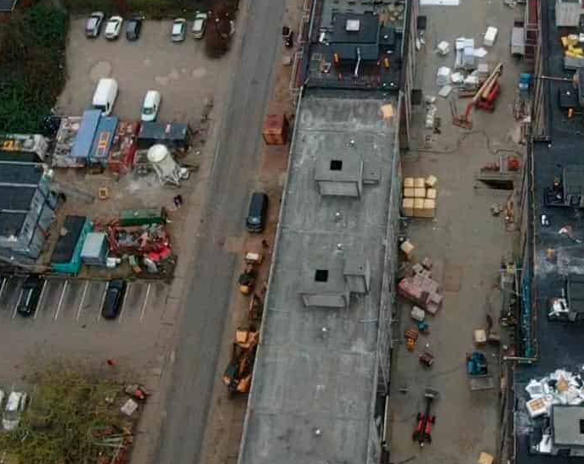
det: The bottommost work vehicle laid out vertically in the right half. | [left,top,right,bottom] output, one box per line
[410,381,438,448]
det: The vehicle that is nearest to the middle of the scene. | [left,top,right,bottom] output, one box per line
[242,188,268,231]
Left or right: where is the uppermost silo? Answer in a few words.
left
